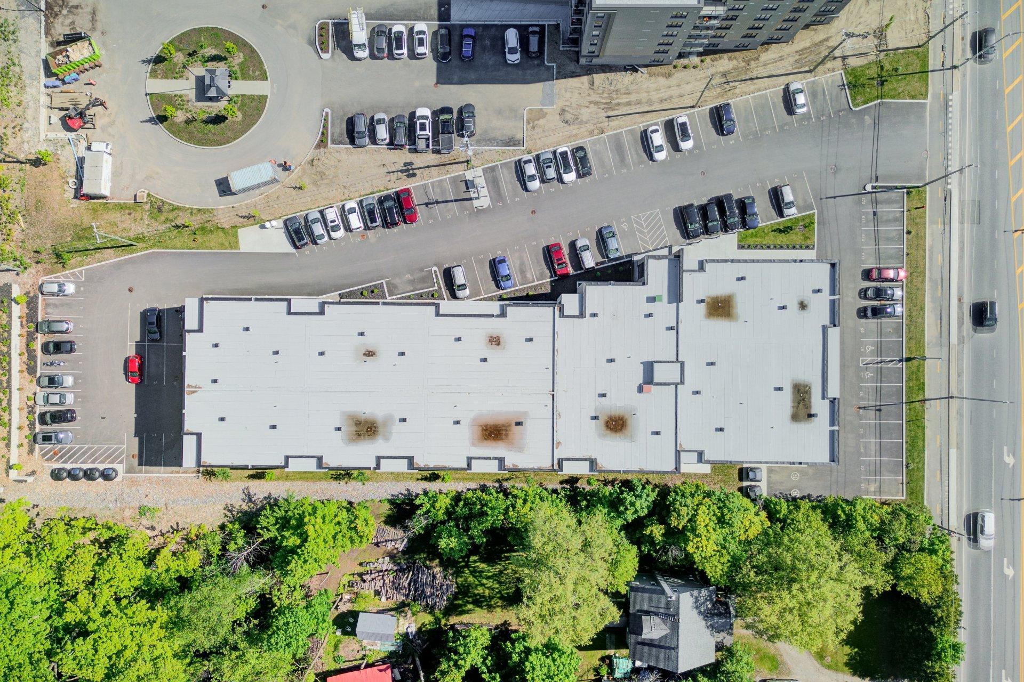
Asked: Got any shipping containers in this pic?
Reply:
Yes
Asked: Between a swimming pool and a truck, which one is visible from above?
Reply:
truck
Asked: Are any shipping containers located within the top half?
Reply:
Yes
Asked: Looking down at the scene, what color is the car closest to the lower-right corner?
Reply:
white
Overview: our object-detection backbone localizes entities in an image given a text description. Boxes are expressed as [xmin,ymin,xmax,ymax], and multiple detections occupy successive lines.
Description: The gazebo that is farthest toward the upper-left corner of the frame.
[209,71,238,103]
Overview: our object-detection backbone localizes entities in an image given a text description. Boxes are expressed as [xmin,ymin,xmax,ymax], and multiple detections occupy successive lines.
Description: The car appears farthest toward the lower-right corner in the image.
[978,511,999,549]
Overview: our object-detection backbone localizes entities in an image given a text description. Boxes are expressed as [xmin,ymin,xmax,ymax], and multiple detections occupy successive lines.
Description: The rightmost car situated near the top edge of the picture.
[977,26,999,64]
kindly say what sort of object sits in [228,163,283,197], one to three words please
shipping container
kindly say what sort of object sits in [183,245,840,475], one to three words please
building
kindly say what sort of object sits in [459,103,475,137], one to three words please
car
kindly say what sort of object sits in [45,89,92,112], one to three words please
trailer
